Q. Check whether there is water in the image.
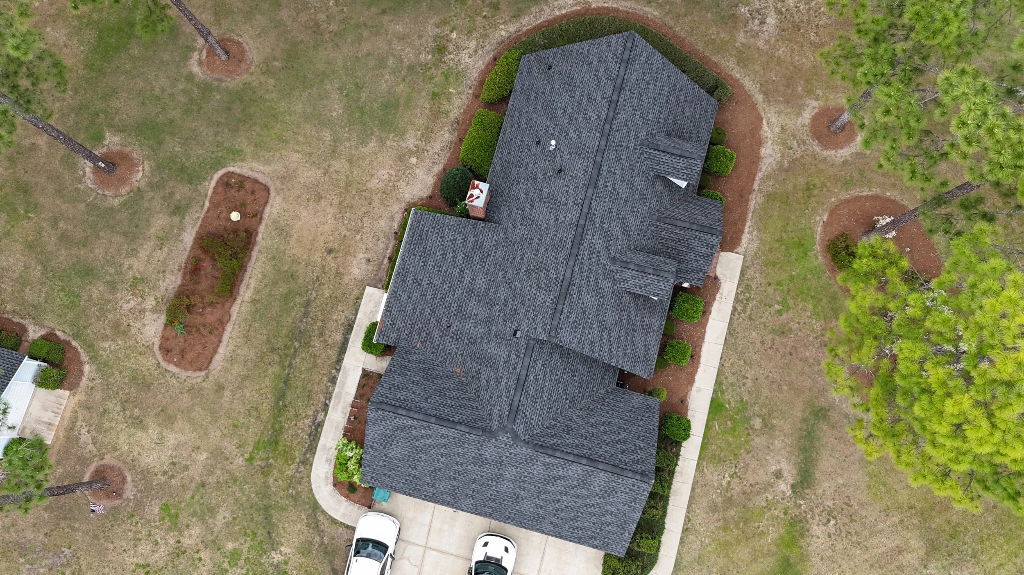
No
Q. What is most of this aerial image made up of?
grass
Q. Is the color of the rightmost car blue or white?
white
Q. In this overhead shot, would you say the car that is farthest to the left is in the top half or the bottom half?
bottom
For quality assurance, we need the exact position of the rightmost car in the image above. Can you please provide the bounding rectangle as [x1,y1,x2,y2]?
[460,532,517,575]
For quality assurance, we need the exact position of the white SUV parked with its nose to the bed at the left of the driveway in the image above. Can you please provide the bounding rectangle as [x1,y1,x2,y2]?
[342,511,401,575]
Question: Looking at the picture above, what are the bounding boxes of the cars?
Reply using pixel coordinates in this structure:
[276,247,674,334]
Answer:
[342,511,401,575]
[460,532,517,575]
